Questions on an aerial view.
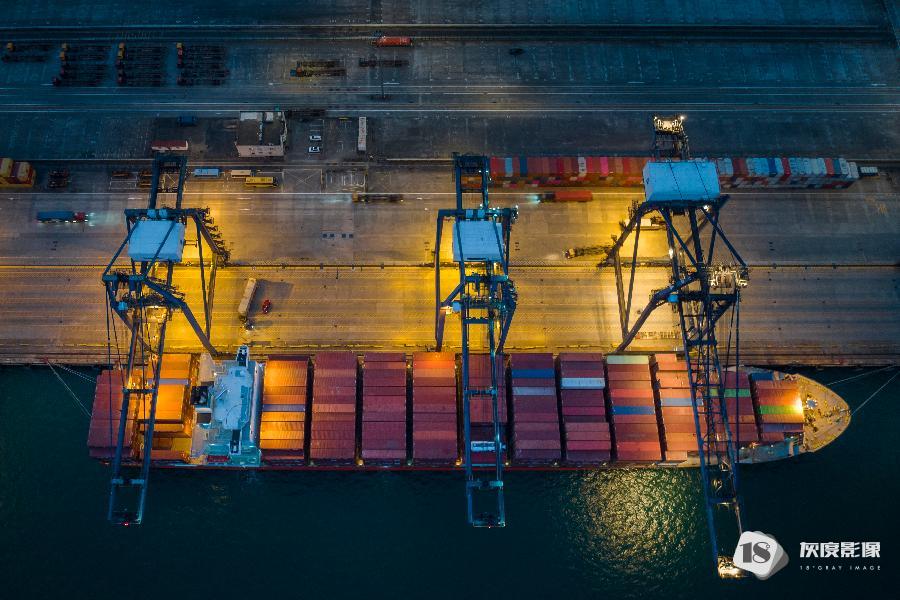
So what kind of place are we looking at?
port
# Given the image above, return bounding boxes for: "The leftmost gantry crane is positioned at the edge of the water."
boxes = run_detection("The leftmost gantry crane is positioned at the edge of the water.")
[100,155,235,522]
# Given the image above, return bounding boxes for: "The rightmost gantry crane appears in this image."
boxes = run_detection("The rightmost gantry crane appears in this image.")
[596,117,757,578]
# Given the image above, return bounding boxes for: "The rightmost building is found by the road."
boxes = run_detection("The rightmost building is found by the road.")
[234,112,291,157]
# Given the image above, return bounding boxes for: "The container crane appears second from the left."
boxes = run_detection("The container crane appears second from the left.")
[425,156,528,523]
